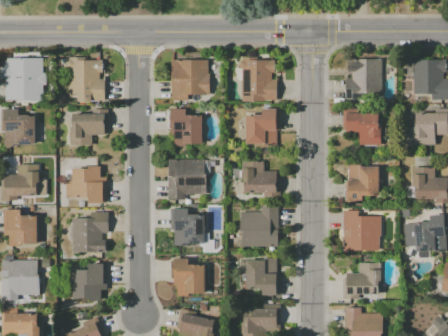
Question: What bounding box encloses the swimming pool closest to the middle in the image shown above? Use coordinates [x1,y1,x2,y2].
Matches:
[209,172,223,200]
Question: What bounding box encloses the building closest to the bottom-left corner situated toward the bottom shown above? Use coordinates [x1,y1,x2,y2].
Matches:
[1,308,40,336]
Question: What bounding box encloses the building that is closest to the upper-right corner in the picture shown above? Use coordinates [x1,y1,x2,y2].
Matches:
[414,60,448,99]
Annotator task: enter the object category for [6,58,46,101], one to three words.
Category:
house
